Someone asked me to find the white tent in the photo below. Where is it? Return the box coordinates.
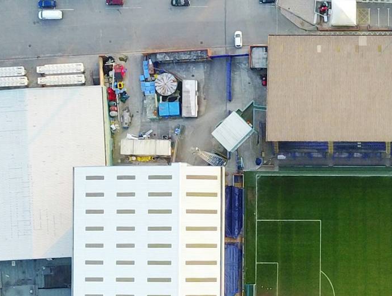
[331,0,357,28]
